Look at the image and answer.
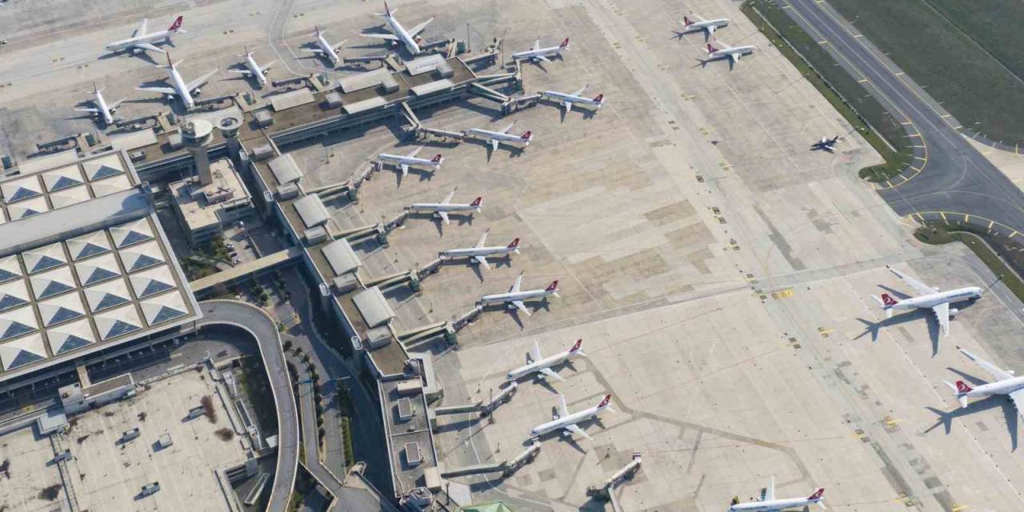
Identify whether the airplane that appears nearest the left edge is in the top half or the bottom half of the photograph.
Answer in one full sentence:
The top half of the photo is where the airplane that appears nearest the left edge is.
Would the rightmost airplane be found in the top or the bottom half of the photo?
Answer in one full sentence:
You can find the rightmost airplane in the bottom half.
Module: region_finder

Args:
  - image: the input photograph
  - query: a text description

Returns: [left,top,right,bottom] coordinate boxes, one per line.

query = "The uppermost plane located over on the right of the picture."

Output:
[682,12,730,34]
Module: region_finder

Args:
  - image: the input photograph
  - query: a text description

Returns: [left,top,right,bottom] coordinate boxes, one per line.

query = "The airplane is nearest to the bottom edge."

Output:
[730,471,823,512]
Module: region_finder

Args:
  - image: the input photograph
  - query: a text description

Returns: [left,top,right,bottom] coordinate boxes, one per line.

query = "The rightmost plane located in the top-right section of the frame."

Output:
[813,131,840,146]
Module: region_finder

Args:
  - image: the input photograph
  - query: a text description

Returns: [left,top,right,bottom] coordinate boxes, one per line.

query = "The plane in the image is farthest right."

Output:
[947,343,1024,417]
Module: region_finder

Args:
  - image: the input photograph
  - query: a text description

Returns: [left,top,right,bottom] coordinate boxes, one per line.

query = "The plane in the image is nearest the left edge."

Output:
[78,84,127,124]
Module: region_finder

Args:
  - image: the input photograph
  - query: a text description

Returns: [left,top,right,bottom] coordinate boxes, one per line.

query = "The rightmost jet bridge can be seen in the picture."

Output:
[605,456,644,512]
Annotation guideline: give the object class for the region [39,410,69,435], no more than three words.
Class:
building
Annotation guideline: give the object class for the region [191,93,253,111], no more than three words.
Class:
jet bridge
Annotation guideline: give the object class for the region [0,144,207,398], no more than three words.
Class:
building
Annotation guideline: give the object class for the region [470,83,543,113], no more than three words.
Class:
jet bridge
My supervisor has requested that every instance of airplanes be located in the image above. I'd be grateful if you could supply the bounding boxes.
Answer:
[947,343,1024,417]
[411,186,480,222]
[707,39,756,63]
[78,84,127,124]
[379,143,442,174]
[135,56,216,112]
[106,14,189,53]
[363,6,434,56]
[531,390,614,442]
[878,263,984,333]
[508,336,584,382]
[441,231,514,270]
[730,471,823,512]
[469,122,530,150]
[233,50,278,86]
[813,131,840,146]
[682,12,730,34]
[482,271,559,314]
[305,30,348,65]
[545,84,604,110]
[513,37,570,62]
